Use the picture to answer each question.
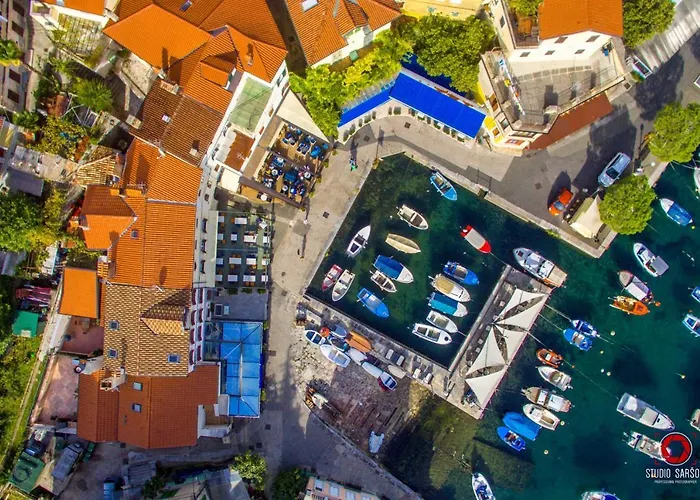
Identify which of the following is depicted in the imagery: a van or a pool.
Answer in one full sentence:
The one in the frame is a van.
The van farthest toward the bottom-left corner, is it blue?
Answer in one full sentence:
Yes, the van farthest toward the bottom-left corner is indeed blue.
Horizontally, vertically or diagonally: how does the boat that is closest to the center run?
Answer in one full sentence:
What the image shows is the boat that is closest to the center lying diagonally.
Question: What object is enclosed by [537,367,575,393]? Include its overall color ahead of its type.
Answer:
white boat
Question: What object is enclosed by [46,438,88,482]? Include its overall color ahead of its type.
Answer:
blue van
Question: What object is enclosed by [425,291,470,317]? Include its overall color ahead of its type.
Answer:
blue boat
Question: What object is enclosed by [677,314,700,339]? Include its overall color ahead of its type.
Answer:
blue boat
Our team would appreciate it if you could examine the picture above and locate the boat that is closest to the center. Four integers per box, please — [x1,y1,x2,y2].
[344,226,371,259]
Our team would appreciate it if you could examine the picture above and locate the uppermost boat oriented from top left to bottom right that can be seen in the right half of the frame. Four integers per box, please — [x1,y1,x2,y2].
[429,170,458,200]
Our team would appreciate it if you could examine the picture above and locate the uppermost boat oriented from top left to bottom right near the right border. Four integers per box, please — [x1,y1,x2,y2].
[660,198,697,227]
